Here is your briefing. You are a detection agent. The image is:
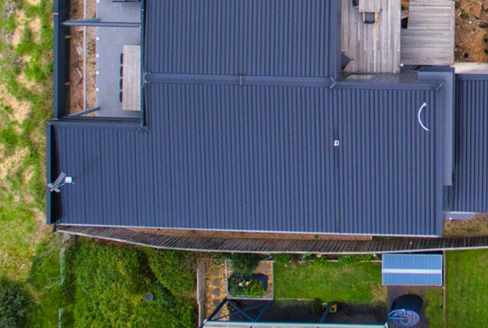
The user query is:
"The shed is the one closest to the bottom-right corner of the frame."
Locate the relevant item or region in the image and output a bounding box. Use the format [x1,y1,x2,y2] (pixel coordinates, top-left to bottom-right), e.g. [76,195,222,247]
[382,245,443,286]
